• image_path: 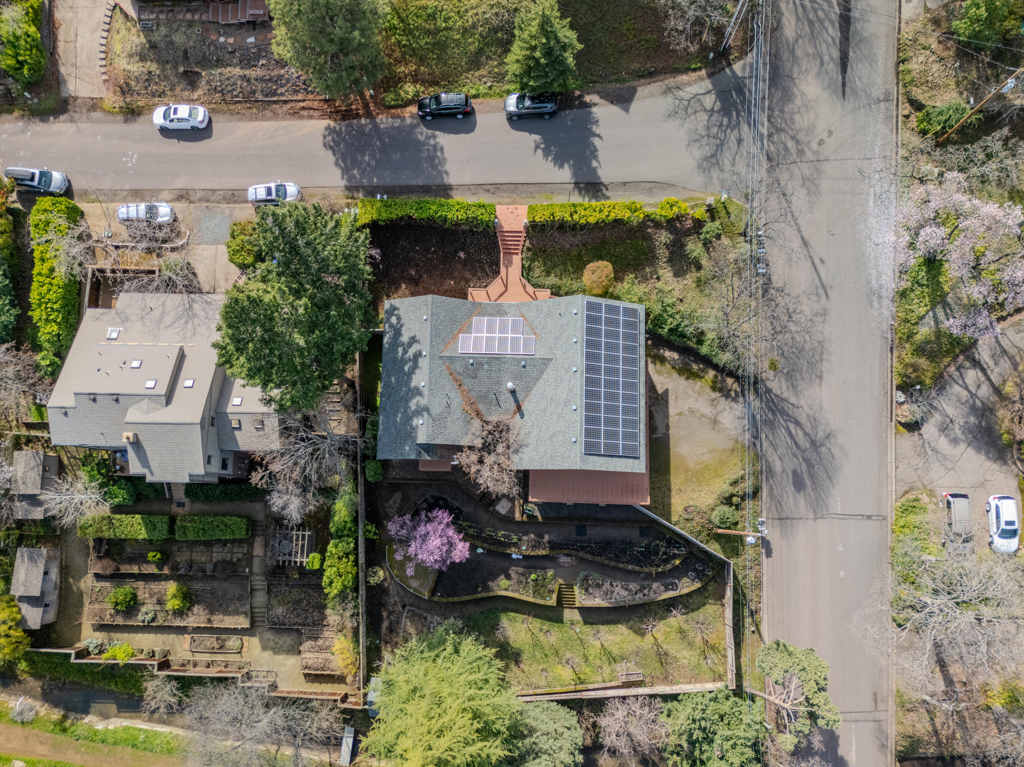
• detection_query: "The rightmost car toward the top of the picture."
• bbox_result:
[503,96,559,126]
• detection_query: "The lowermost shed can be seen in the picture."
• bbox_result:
[367,674,389,717]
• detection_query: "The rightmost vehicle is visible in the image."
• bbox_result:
[985,496,1021,554]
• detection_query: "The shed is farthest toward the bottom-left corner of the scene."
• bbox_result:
[10,548,66,629]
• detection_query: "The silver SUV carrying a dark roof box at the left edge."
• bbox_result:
[0,166,70,199]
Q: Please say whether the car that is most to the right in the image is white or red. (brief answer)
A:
white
